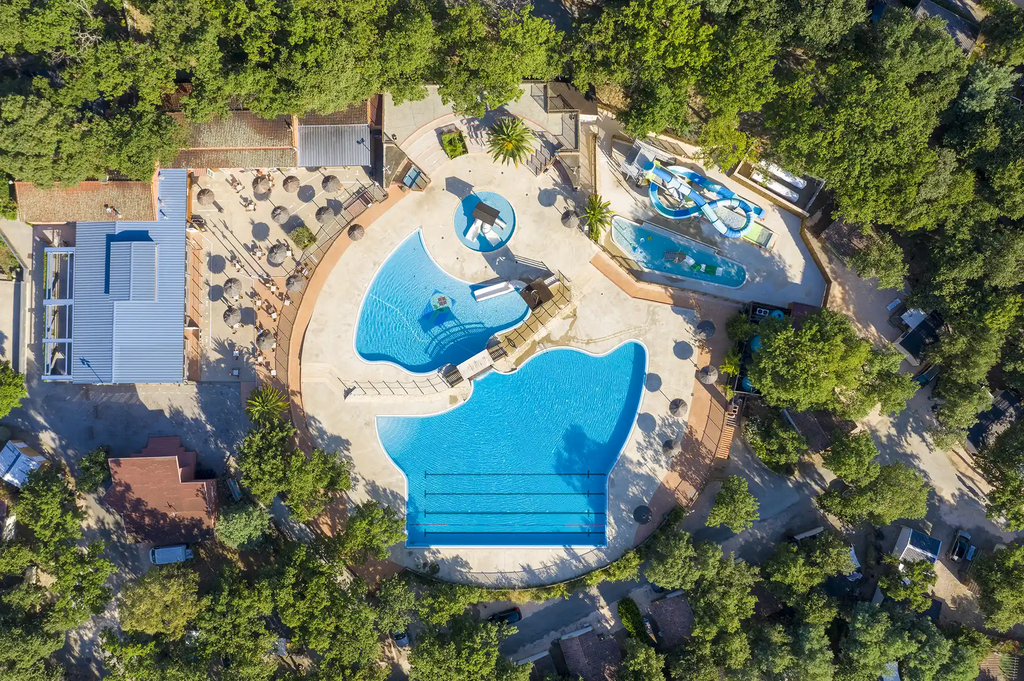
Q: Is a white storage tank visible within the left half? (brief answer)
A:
No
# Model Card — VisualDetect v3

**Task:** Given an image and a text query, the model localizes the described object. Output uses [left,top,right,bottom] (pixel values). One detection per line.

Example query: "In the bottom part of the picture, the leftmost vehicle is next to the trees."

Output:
[149,545,192,566]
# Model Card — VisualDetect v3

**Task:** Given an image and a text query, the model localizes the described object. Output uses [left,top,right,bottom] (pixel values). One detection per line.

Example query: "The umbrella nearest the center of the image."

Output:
[559,210,579,228]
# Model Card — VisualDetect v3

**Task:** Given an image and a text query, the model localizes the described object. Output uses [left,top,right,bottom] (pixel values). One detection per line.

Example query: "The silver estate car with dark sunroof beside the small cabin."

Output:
[946,528,973,565]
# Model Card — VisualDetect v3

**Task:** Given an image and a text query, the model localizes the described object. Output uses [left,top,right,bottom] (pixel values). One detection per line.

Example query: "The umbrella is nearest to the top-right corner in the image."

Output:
[696,319,715,339]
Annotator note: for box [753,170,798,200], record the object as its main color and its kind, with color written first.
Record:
white storage tank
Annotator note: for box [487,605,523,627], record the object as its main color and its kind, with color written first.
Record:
black car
